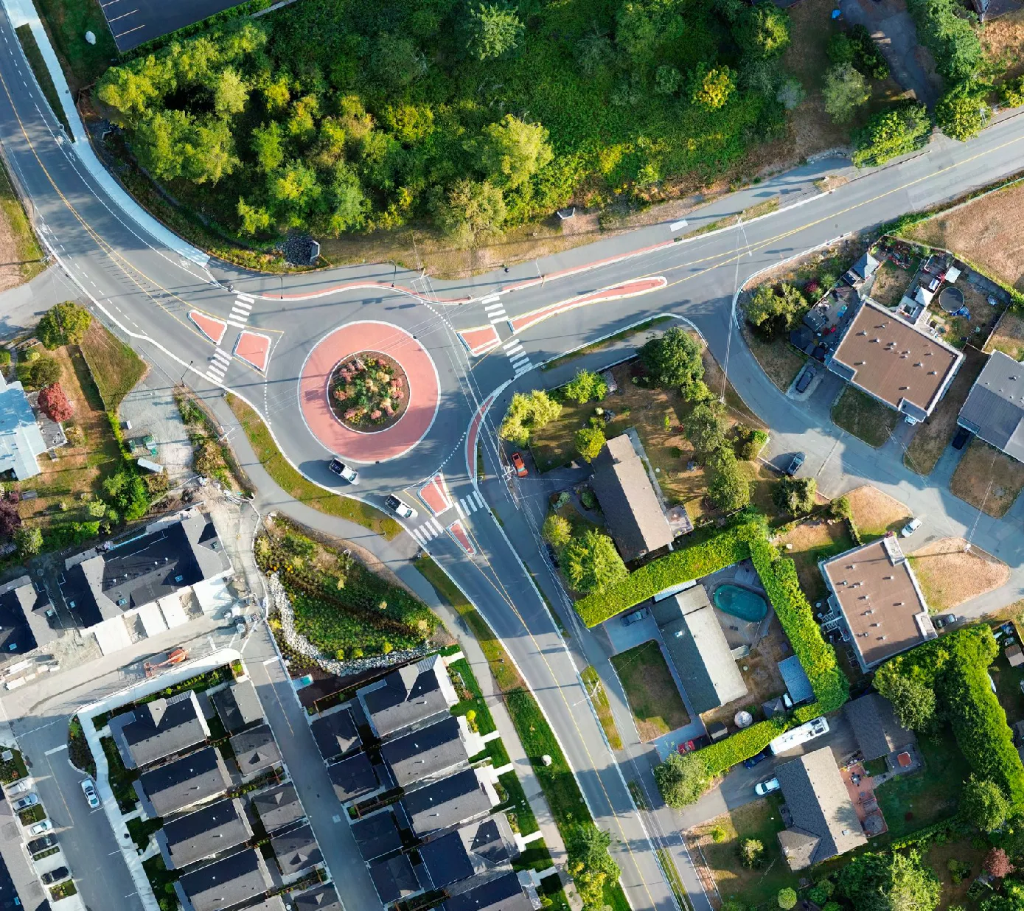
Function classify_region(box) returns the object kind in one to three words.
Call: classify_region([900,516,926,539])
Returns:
car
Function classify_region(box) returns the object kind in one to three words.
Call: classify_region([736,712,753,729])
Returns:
umbrella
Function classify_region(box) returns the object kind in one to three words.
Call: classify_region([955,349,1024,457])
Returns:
house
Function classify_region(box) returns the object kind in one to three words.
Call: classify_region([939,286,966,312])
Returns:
trampoline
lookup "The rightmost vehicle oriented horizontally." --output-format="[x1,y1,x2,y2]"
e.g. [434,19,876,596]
[931,613,961,630]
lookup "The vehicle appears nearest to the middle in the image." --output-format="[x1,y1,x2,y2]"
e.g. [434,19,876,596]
[511,451,527,478]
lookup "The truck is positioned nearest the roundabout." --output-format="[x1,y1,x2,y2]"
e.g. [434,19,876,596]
[328,457,360,485]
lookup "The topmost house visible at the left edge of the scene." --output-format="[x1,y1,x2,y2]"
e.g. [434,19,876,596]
[0,374,46,480]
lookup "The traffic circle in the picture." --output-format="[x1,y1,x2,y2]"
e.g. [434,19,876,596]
[298,320,441,463]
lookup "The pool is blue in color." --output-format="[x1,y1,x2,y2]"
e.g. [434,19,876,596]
[712,584,769,622]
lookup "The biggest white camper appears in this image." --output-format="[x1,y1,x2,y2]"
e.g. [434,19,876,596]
[771,717,832,757]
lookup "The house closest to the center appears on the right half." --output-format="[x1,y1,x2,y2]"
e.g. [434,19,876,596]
[585,433,673,559]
